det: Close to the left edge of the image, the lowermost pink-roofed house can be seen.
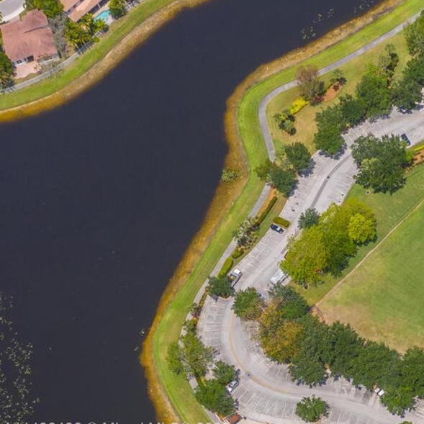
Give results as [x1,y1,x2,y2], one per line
[1,10,61,66]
